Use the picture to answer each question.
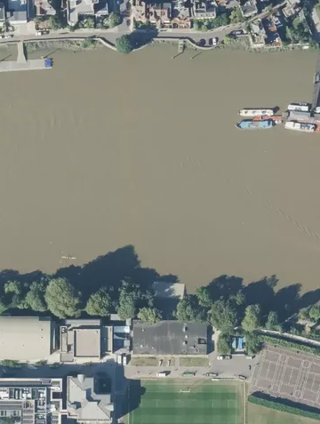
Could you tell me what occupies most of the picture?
water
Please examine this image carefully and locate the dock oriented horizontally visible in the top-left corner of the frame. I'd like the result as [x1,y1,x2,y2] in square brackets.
[0,59,52,73]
